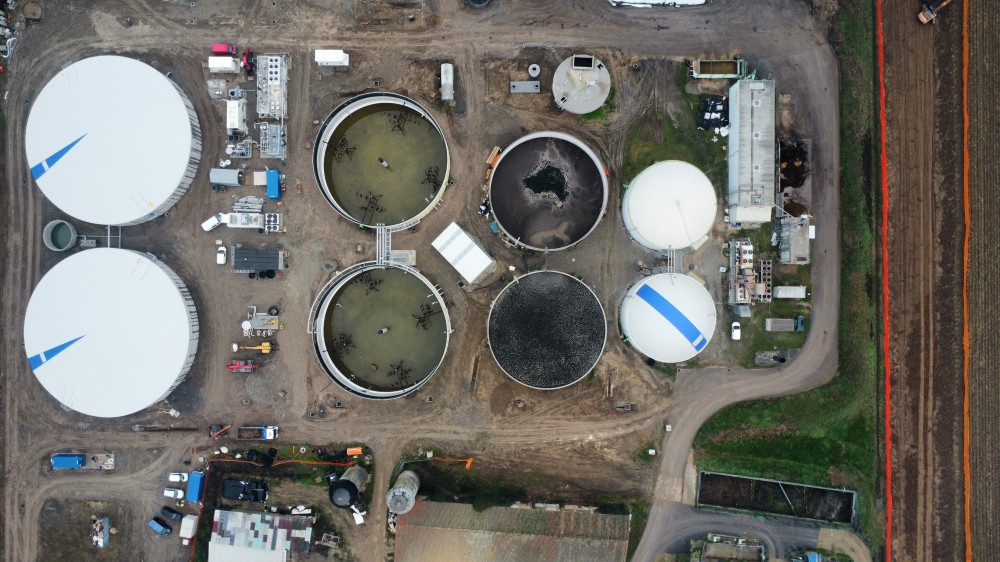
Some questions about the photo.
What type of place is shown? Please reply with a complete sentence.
The area seen from above is an industrial area.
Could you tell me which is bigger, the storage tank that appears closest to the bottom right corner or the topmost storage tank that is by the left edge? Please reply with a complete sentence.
Compared with the storage tank that appears closest to the bottom right corner, the topmost storage tank that is by the left edge is the larger one.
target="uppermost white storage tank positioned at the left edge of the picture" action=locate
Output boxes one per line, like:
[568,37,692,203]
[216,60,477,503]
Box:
[24,56,200,225]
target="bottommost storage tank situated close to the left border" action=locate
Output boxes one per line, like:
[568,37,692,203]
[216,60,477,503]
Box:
[23,249,199,416]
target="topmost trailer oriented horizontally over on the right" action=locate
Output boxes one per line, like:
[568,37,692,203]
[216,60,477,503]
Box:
[685,55,745,80]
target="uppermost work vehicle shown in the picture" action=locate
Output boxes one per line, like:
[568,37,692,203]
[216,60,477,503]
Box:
[921,0,949,22]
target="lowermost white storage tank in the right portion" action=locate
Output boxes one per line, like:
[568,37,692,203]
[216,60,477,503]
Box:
[620,273,717,364]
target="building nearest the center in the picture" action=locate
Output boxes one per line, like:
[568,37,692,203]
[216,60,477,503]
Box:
[432,222,492,282]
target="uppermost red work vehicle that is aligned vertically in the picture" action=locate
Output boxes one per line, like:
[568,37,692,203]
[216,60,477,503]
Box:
[241,48,254,75]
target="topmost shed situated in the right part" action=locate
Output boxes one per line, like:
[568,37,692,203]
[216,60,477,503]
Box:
[729,79,791,224]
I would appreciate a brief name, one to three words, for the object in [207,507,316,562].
shed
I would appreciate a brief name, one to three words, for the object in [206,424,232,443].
work vehicle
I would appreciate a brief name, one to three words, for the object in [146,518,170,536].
vehicle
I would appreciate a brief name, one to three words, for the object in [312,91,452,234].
storage tank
